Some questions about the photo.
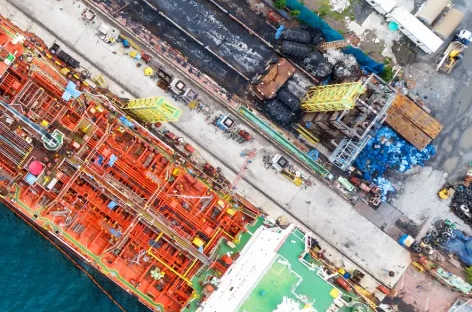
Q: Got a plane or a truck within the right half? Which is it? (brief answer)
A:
truck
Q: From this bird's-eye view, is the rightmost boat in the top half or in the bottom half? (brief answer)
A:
bottom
